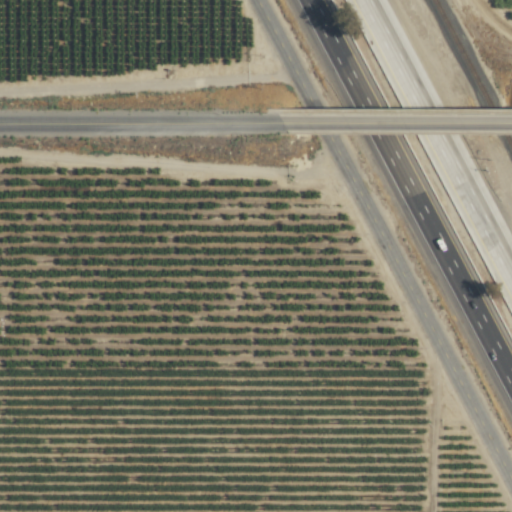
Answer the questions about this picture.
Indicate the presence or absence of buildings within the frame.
No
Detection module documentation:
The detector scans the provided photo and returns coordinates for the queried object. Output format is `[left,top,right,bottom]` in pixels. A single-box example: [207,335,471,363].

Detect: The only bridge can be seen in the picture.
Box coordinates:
[266,108,512,134]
